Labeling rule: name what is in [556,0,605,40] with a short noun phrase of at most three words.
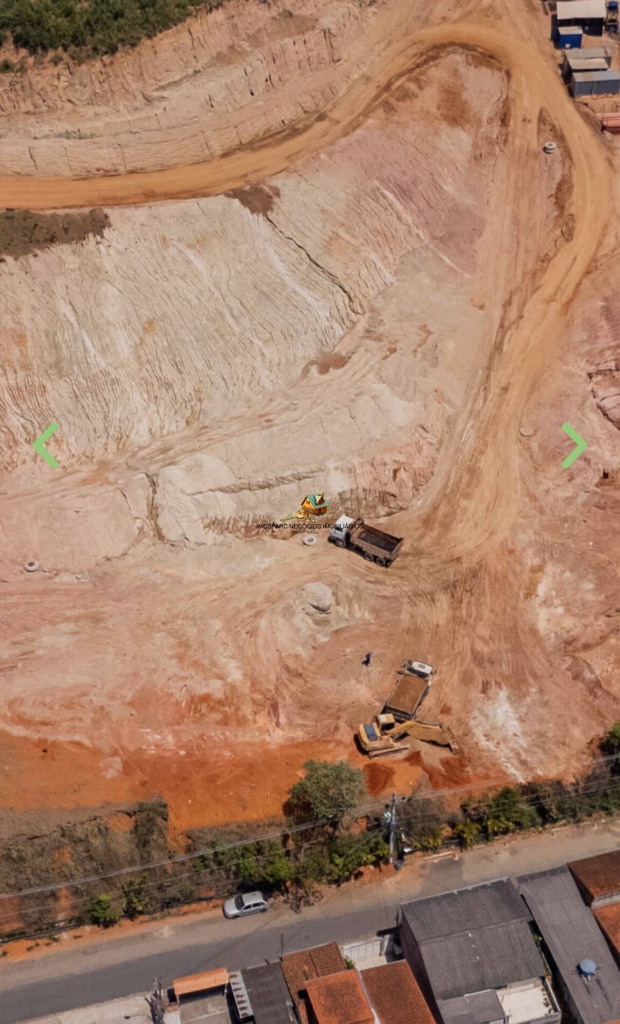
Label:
shed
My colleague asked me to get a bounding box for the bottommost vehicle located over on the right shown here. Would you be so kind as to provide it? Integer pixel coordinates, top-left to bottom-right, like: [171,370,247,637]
[357,708,463,759]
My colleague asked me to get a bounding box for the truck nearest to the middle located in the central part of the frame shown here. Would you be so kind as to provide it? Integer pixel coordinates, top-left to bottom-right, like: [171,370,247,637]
[326,513,406,568]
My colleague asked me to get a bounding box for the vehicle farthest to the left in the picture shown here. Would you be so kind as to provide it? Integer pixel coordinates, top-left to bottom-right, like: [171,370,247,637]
[221,888,272,919]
